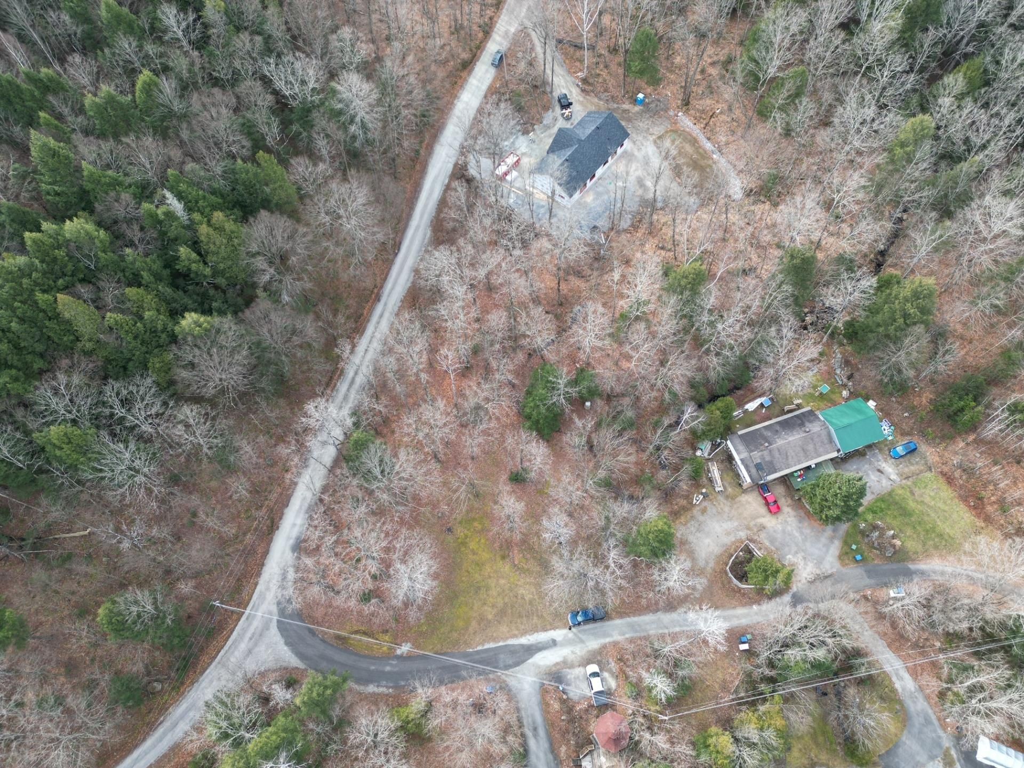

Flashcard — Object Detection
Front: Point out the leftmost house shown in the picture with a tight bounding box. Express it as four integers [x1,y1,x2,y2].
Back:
[529,111,630,205]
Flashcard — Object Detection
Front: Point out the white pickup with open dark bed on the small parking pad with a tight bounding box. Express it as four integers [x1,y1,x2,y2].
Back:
[586,662,608,707]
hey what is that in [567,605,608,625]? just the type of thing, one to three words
vehicle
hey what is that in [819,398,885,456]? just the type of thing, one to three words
building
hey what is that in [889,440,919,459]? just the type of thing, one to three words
car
